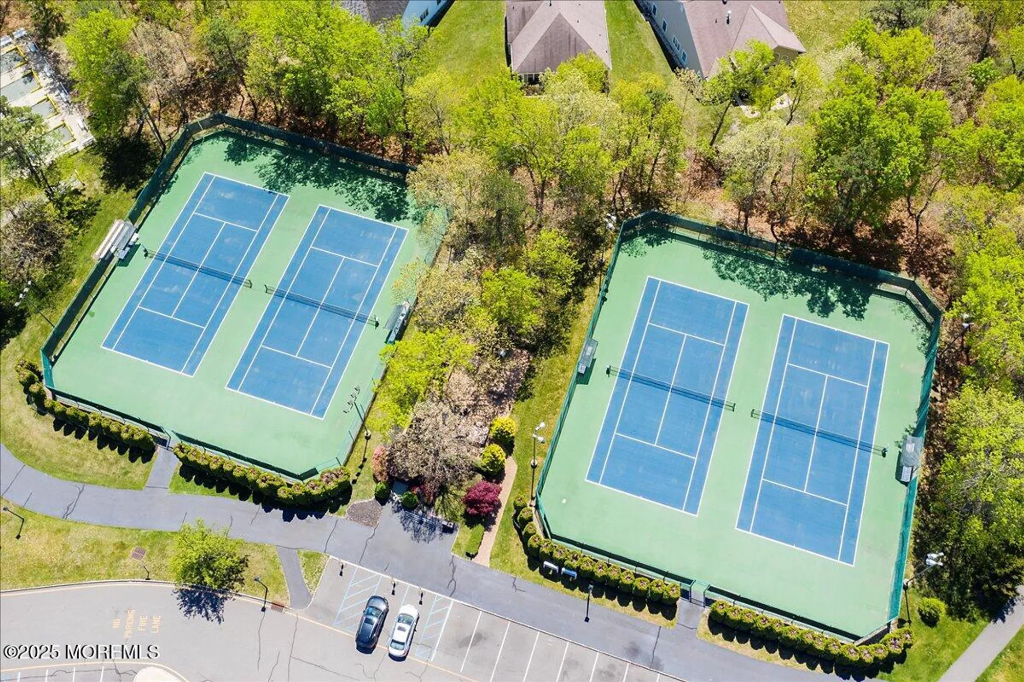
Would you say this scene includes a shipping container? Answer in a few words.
No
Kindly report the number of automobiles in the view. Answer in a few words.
2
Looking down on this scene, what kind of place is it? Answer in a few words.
sports ground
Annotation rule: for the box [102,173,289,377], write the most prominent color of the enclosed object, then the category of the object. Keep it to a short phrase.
blue tennis court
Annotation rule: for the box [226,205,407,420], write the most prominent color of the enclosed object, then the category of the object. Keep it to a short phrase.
blue tennis court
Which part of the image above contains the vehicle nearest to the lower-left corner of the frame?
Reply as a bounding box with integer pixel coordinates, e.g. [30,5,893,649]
[356,596,386,650]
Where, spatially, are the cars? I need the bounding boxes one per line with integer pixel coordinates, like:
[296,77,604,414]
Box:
[388,605,418,660]
[356,596,386,650]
